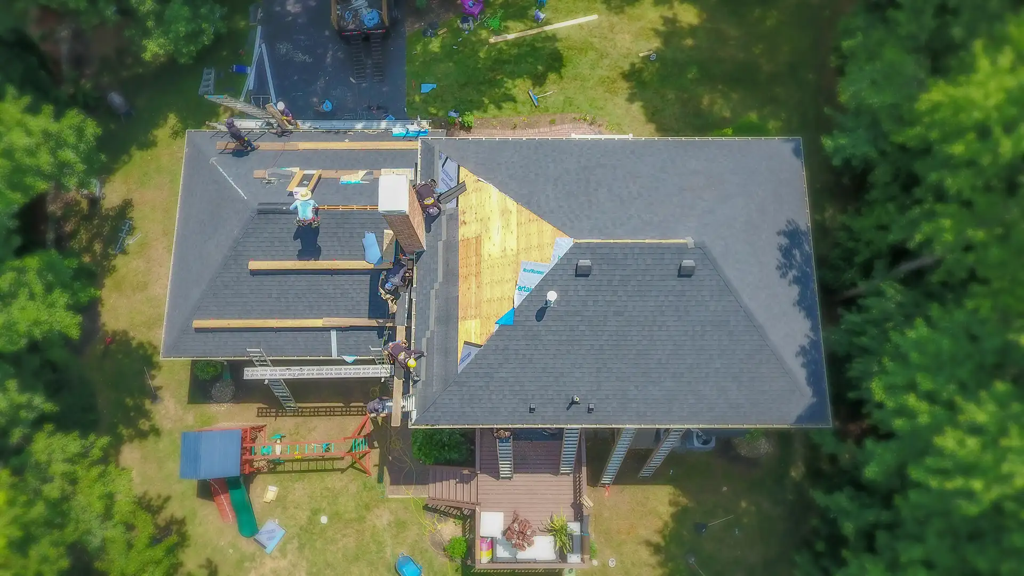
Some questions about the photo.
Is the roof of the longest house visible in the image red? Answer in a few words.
No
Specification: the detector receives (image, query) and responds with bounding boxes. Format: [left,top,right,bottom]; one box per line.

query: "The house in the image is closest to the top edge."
[160,130,832,438]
